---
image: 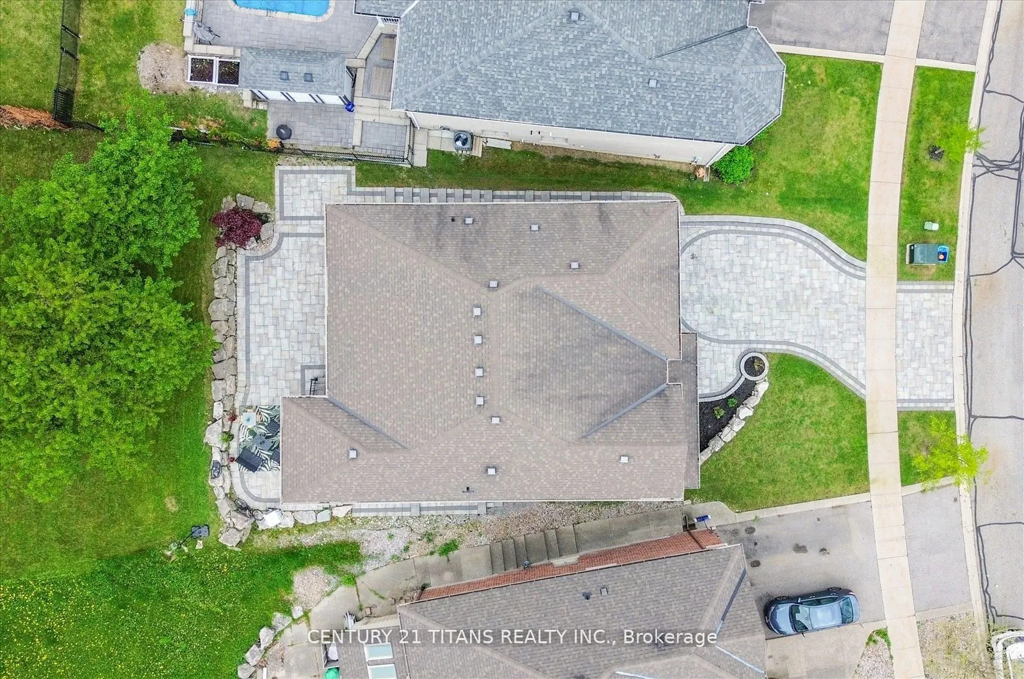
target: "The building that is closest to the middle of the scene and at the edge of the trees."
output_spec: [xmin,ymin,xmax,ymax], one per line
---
[279,199,703,506]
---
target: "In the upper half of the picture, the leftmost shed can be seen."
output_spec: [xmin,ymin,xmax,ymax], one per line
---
[238,45,351,105]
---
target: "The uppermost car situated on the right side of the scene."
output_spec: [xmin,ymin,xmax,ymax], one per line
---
[762,585,859,639]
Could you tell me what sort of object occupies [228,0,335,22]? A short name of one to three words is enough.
swimming pool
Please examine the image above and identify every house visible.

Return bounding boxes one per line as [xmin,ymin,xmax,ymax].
[352,0,789,171]
[279,199,703,506]
[338,515,769,679]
